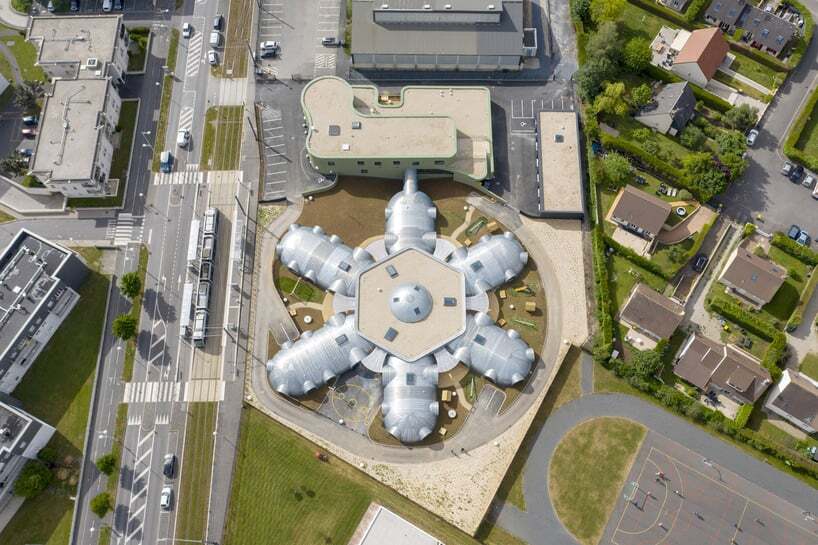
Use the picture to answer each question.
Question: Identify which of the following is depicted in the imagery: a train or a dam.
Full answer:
The one in the frame is a train.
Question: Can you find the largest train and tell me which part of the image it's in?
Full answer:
Look in the left portion of the view to spot the largest train.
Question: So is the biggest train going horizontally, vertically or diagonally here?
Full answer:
What the image shows is the biggest train lying vertically.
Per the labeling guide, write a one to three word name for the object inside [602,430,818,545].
sports court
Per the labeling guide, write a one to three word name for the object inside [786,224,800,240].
vehicle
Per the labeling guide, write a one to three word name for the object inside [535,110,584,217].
building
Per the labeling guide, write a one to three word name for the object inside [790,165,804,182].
car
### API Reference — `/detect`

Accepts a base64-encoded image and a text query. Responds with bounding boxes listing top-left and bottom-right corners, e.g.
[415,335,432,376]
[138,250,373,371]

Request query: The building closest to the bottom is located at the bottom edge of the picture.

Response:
[357,505,448,545]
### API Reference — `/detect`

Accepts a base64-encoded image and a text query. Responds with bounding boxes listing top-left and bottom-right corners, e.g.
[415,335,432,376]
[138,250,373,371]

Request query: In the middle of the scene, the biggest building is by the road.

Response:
[263,167,537,446]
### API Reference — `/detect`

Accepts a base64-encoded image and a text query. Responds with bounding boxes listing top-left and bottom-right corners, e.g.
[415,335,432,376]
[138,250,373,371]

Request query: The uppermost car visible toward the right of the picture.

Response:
[746,129,759,145]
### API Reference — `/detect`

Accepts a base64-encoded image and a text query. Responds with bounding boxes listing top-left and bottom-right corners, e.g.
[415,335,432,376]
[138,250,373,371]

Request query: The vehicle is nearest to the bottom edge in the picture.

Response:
[159,486,173,510]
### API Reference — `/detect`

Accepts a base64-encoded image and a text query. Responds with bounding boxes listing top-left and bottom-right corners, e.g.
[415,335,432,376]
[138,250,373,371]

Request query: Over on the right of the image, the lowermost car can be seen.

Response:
[693,253,709,273]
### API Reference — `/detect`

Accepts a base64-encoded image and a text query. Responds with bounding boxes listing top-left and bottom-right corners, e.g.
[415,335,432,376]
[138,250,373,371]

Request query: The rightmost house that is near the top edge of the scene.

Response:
[728,0,799,54]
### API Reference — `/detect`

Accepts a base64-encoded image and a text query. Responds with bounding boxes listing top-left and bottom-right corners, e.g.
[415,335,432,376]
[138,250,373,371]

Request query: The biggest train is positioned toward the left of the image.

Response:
[193,209,220,346]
